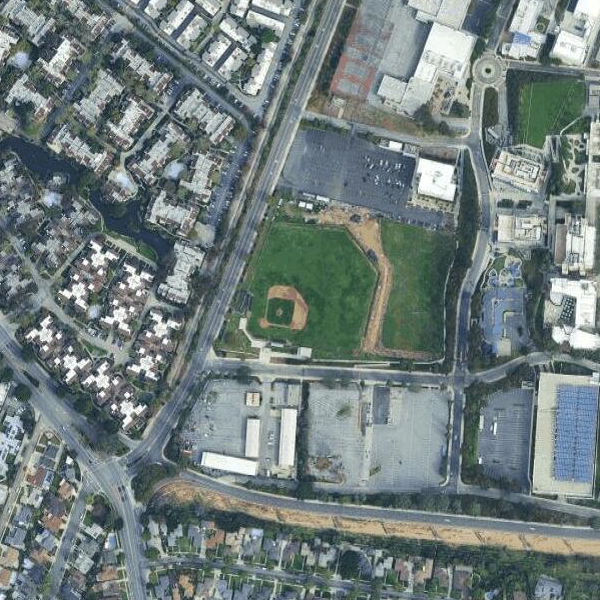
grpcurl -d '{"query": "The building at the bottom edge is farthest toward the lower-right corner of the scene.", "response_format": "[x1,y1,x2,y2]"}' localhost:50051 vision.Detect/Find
[536,578,562,600]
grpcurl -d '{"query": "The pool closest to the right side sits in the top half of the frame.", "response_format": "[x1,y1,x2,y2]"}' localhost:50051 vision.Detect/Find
[164,157,184,179]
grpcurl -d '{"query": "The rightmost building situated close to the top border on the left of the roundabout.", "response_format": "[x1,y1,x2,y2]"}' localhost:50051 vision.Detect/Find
[377,0,479,115]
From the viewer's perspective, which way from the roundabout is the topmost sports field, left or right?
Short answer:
right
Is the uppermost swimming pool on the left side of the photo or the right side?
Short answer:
left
